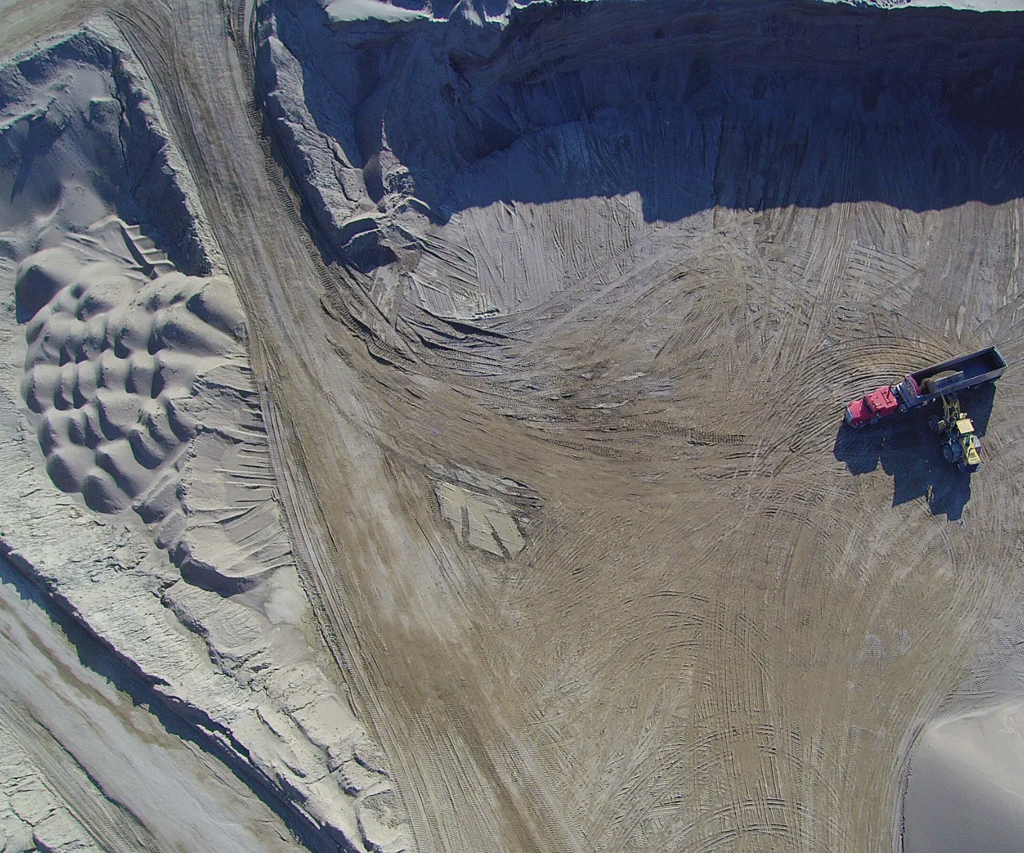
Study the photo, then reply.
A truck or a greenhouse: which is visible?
truck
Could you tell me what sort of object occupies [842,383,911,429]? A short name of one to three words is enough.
truck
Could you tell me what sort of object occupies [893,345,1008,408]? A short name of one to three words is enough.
trailer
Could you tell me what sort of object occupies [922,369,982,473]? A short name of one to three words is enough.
work vehicle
